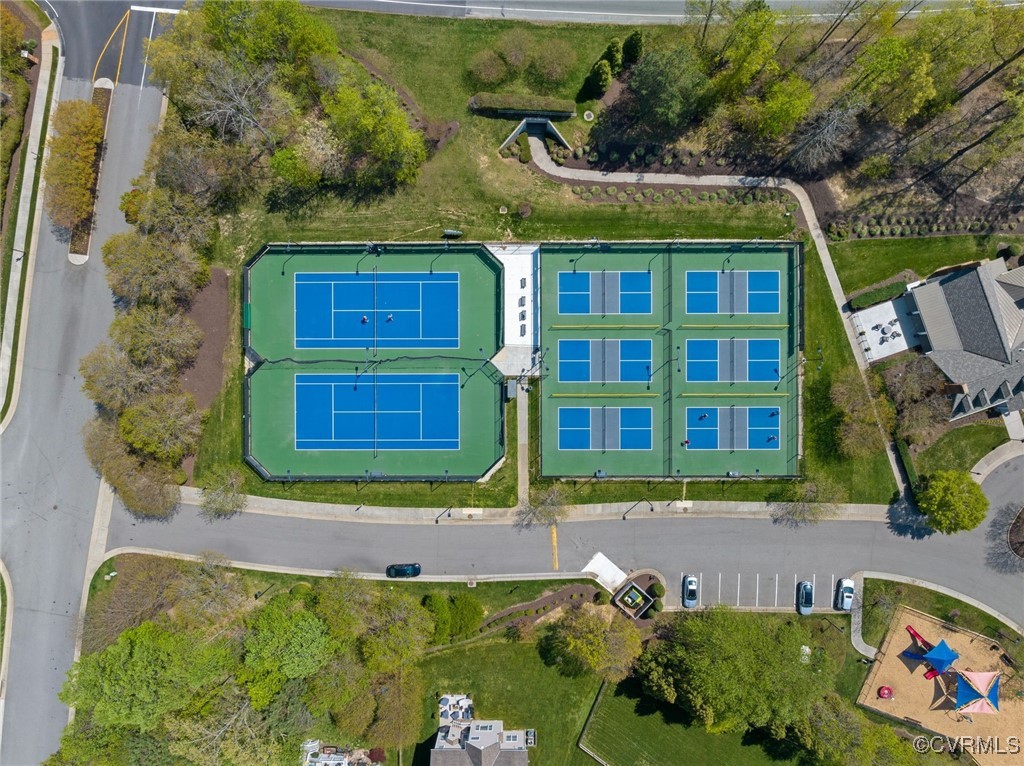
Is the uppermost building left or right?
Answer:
right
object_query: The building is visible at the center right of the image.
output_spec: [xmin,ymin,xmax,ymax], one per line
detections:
[904,257,1024,422]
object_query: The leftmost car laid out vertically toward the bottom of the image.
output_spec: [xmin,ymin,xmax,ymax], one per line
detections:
[685,576,700,609]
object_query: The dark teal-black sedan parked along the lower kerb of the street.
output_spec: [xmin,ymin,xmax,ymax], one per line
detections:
[386,563,420,580]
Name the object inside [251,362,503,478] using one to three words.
tennis court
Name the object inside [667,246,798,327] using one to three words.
sports court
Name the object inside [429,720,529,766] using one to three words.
house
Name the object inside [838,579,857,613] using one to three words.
car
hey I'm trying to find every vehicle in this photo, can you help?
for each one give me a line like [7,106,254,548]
[685,576,700,609]
[386,563,420,580]
[838,579,857,613]
[799,581,817,616]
